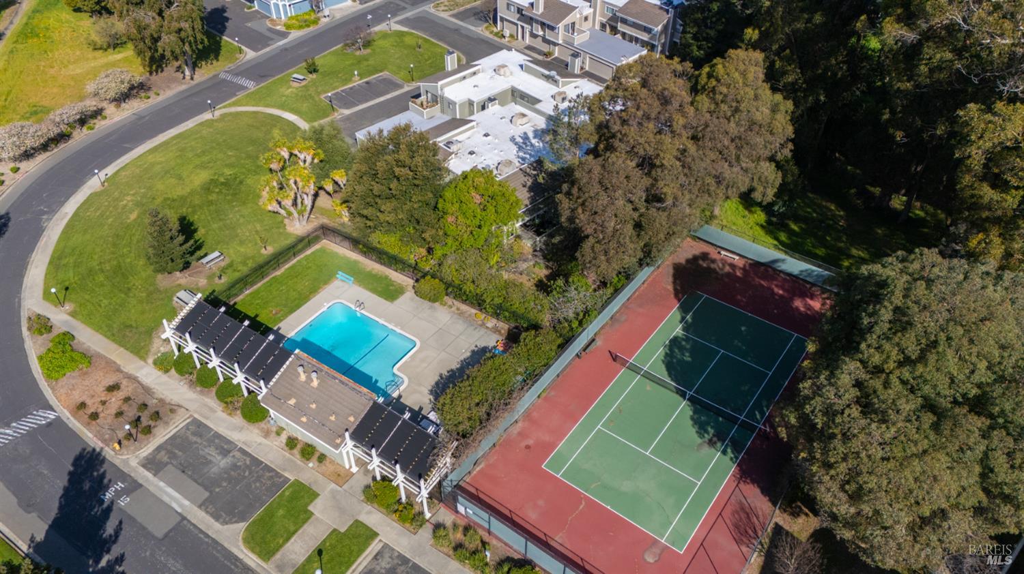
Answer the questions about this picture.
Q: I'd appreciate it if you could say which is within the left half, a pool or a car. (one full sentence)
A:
Visible within the left half is a pool.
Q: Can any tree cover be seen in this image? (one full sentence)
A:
Yes, tree cover shows up in the scene.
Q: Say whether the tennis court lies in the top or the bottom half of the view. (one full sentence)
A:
Seen from above, the tennis court lies in the bottom half of the view.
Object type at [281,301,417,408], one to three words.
swimming pool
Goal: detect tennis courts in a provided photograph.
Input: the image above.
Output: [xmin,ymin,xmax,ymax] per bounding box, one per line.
[450,242,867,574]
